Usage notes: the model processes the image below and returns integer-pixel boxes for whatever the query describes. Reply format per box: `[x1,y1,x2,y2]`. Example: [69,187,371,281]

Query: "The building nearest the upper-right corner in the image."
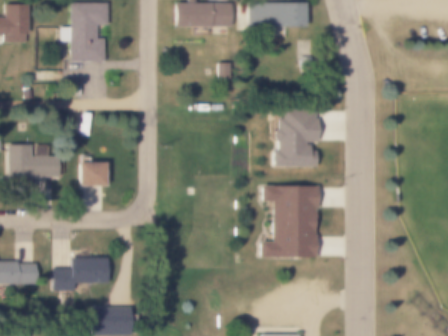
[247,1,310,28]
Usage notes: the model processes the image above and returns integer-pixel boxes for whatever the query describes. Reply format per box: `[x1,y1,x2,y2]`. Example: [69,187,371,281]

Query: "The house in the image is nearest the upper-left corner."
[0,3,30,42]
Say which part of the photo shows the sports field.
right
